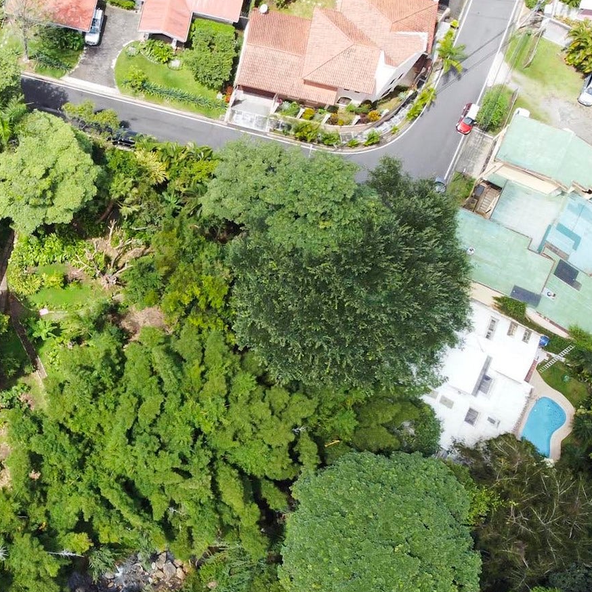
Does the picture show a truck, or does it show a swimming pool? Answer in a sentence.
Visible in the photo is a swimming pool.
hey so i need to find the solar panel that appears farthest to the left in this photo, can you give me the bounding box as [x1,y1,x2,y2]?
[510,286,541,306]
